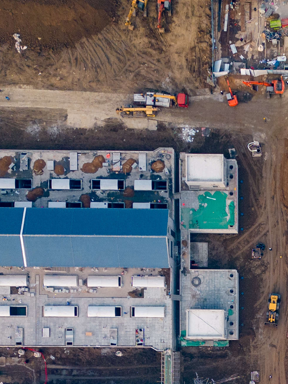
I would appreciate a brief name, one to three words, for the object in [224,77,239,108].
work vehicle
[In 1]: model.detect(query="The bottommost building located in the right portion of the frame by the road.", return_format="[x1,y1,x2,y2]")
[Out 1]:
[180,269,242,341]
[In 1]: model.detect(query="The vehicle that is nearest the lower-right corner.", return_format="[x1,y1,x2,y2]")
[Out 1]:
[264,292,281,328]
